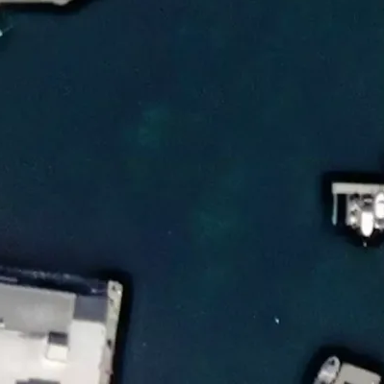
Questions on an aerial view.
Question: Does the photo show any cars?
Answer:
No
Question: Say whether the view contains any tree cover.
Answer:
No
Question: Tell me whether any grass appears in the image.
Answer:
No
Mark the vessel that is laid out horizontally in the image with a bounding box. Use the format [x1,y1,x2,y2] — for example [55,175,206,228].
[334,363,381,384]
